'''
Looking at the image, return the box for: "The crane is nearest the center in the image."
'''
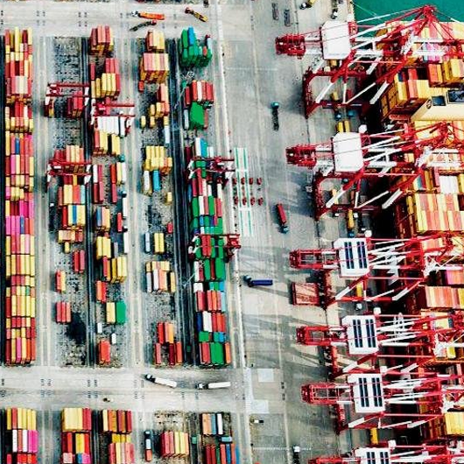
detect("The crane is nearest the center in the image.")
[186,232,239,265]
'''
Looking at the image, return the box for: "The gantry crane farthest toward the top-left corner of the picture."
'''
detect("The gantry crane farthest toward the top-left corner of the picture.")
[43,82,89,117]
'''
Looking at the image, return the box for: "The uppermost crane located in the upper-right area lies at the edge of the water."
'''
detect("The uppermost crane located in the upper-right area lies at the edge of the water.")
[275,3,464,106]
